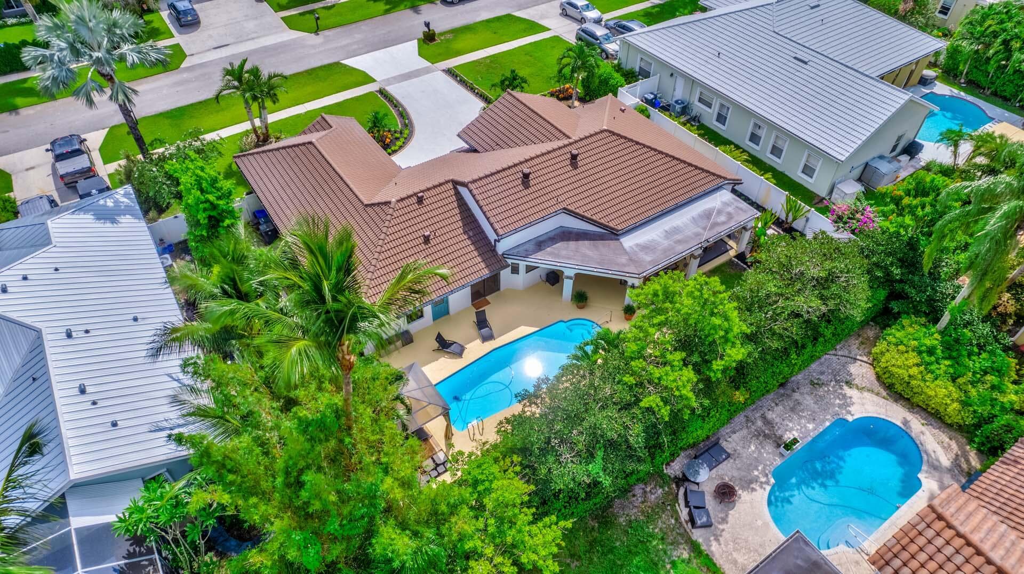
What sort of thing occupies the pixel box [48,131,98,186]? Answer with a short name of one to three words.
truck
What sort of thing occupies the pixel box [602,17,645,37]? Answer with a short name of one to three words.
car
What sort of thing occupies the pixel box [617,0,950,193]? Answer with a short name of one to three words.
house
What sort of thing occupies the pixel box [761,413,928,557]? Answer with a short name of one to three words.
swimming pool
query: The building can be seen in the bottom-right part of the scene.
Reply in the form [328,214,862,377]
[860,438,1024,574]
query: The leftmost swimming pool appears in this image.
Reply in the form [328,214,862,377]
[430,314,613,439]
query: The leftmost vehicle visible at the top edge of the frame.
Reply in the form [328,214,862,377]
[163,1,195,28]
